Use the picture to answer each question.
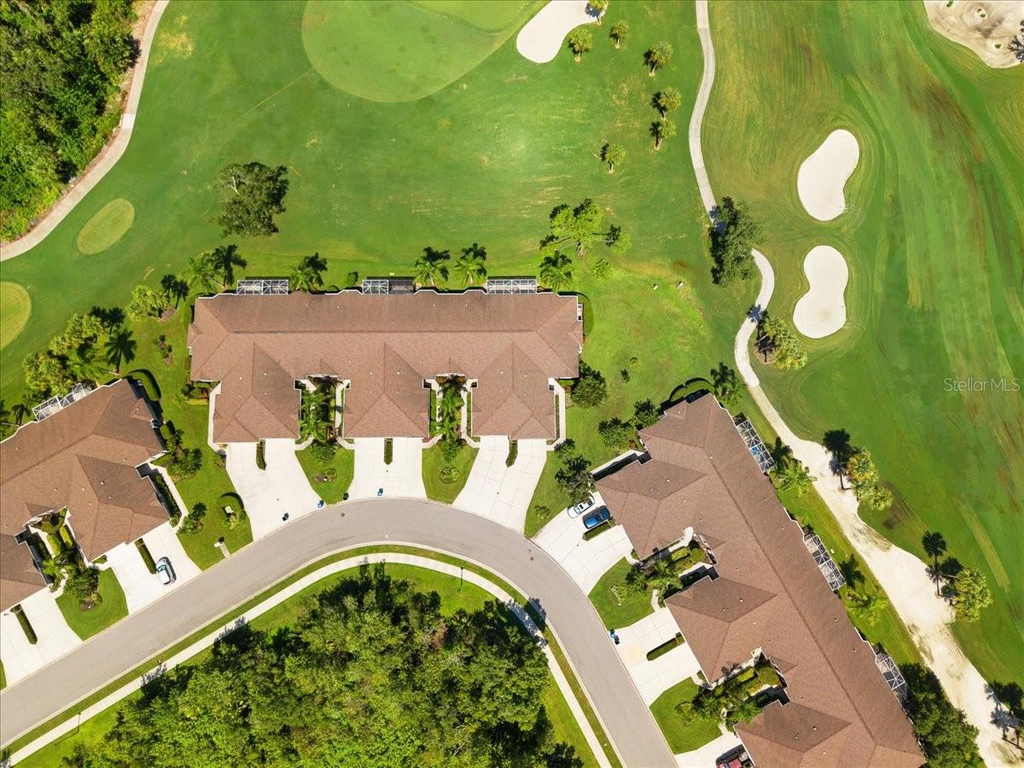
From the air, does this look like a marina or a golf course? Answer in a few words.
golf course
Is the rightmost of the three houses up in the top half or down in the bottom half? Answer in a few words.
bottom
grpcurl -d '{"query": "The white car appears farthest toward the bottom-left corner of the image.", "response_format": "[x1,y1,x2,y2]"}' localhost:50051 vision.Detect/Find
[155,556,175,586]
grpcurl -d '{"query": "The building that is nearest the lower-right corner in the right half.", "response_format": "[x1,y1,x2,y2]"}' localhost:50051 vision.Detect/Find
[594,390,926,768]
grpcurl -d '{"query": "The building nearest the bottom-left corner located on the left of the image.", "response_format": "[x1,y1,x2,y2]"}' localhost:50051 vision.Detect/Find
[0,379,172,617]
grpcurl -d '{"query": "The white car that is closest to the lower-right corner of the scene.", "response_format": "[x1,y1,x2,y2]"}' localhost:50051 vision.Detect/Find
[567,493,597,517]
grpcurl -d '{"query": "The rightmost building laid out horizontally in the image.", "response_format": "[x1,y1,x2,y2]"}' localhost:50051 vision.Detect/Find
[188,290,586,444]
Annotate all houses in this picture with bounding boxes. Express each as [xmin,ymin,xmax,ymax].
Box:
[594,390,926,768]
[0,379,172,617]
[188,290,586,444]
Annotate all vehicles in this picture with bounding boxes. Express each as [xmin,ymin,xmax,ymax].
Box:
[155,556,175,586]
[720,752,750,768]
[567,493,597,517]
[582,506,611,530]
